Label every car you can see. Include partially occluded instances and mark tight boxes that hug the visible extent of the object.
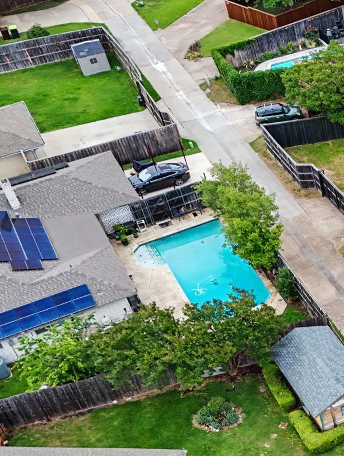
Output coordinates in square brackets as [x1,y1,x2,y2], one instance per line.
[253,97,303,123]
[130,162,191,195]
